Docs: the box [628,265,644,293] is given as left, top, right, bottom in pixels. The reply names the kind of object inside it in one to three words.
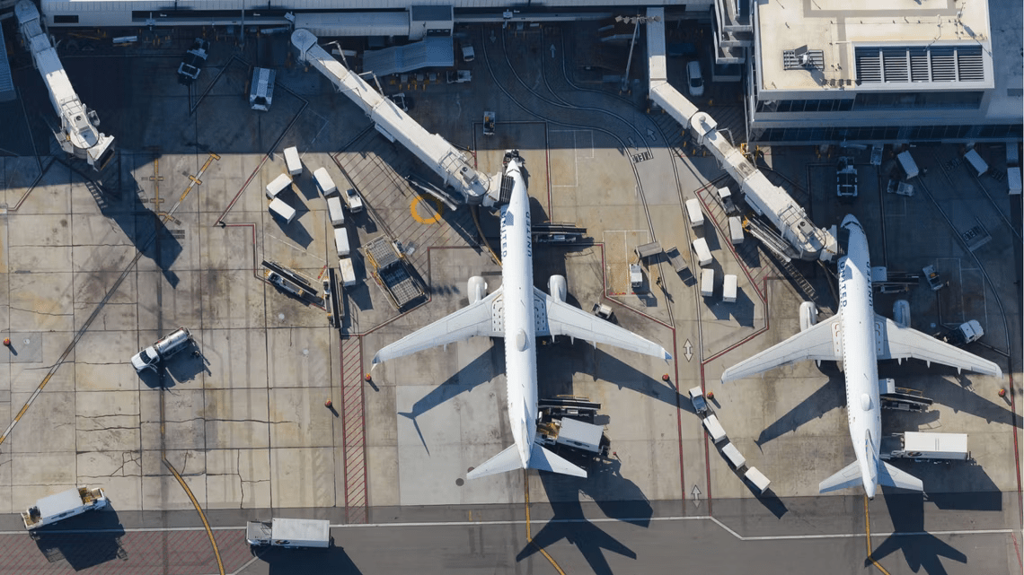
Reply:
work vehicle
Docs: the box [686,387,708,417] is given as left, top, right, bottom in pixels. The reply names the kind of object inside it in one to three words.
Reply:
work vehicle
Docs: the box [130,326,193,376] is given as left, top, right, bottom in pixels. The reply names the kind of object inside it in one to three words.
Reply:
truck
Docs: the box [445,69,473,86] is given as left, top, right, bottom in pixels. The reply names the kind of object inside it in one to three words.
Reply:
vehicle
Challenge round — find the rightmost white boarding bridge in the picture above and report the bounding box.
[686,109,848,304]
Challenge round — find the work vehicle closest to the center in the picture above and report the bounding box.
[533,228,586,256]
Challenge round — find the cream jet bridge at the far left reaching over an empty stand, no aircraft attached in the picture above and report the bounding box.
[12,0,117,170]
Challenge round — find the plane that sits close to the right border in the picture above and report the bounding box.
[721,214,1006,501]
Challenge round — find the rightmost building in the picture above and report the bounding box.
[738,0,1024,168]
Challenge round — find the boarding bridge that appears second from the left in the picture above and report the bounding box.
[291,29,511,237]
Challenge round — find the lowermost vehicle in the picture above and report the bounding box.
[243,519,335,555]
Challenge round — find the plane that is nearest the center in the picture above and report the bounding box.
[370,159,674,479]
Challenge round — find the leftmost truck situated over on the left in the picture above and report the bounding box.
[13,484,108,534]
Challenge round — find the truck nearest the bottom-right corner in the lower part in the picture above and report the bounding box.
[880,432,970,467]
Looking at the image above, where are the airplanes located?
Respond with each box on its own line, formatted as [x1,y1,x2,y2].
[721,214,1006,501]
[370,159,674,479]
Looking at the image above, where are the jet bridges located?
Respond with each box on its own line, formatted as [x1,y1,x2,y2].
[12,0,117,170]
[686,109,848,304]
[291,29,511,237]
